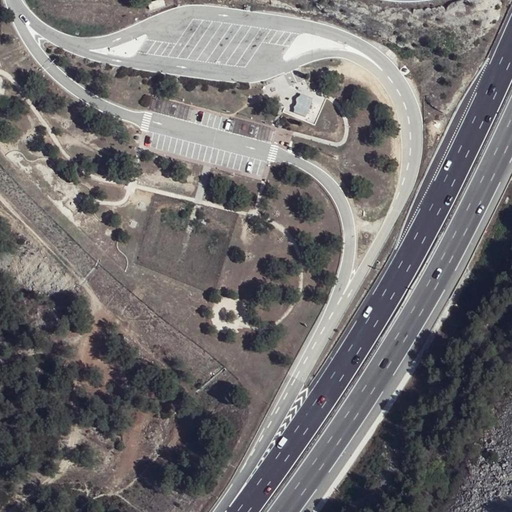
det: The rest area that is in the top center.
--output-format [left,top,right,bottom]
[28,19,382,176]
